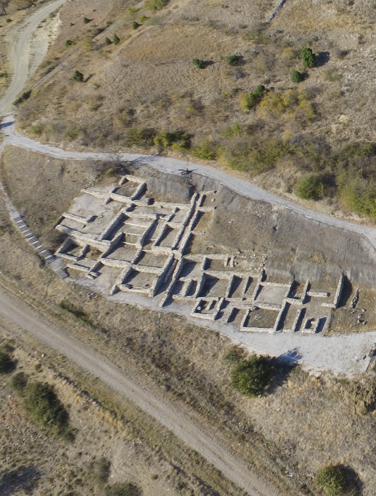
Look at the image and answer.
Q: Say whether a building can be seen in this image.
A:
Yes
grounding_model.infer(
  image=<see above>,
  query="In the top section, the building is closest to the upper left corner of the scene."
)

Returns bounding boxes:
[80,175,152,207]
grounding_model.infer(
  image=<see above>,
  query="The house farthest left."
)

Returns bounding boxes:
[55,238,102,282]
